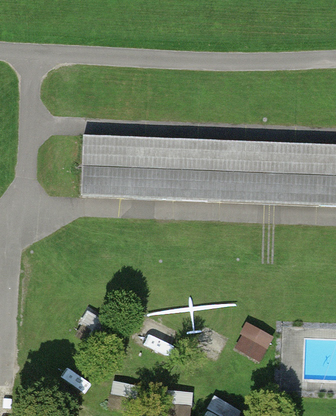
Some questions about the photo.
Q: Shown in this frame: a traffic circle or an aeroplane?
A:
aeroplane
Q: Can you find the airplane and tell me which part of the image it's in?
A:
bottom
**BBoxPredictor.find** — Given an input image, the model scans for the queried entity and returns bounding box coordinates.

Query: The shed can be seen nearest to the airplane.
[232,322,273,362]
